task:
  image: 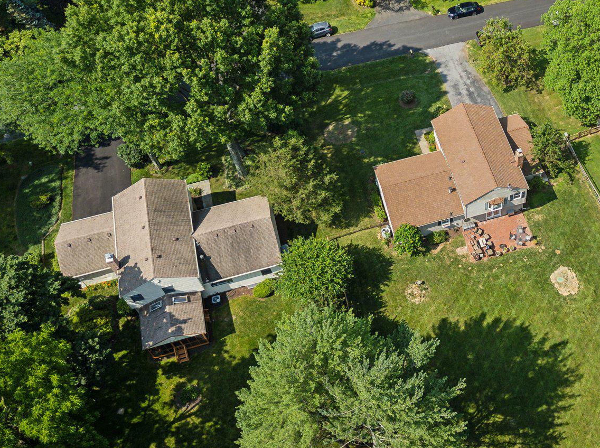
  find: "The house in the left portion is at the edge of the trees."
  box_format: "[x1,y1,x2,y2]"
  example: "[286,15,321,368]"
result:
[54,179,282,362]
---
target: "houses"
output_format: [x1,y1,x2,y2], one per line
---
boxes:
[54,179,282,362]
[373,102,545,240]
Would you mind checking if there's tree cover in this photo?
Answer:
Yes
